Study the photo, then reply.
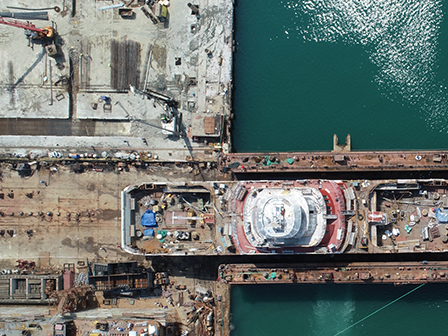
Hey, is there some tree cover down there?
No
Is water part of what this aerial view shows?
Yes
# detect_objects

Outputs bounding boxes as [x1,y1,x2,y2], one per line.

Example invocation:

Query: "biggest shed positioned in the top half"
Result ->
[188,113,221,135]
